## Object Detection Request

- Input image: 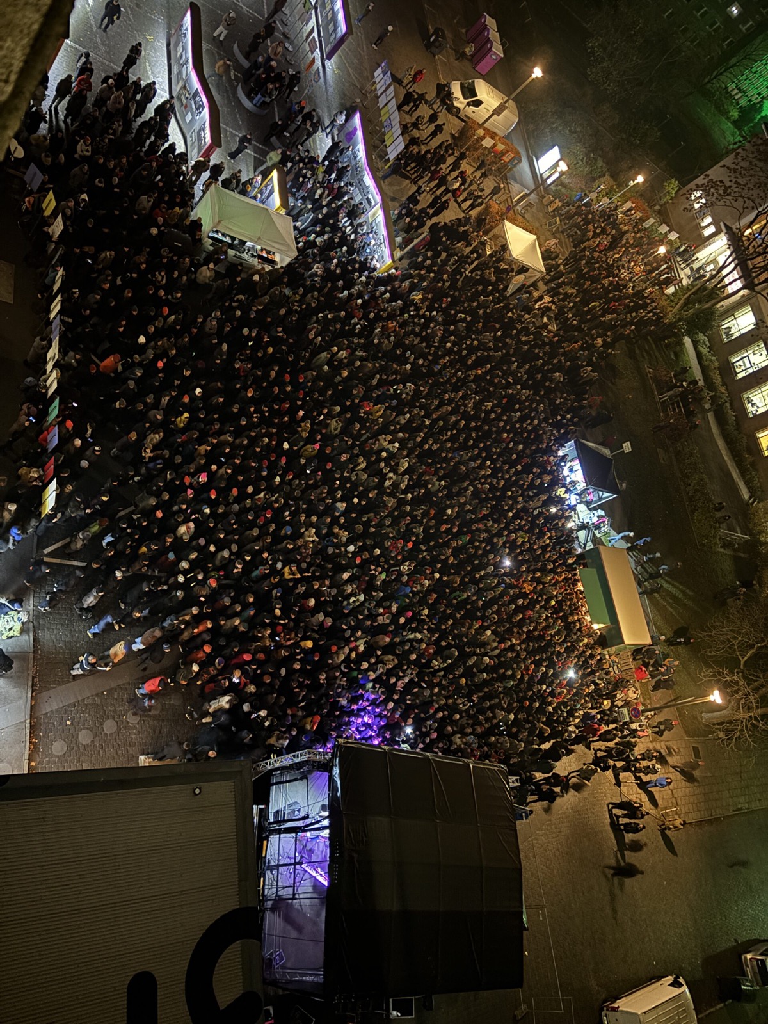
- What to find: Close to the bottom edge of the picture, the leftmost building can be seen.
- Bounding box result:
[0,762,262,1024]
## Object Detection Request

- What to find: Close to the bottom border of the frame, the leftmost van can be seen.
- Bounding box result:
[610,978,698,1024]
